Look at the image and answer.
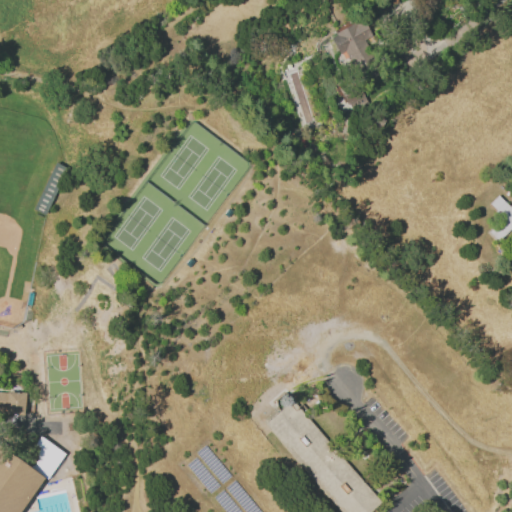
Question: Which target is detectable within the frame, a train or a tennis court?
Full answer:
It is a tennis court that can be seen here.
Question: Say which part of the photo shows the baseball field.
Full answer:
The baseball field sits in the left section of the image.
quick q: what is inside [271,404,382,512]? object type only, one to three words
building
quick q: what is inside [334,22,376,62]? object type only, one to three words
house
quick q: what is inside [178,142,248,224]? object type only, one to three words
tennis court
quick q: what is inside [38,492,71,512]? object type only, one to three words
swimming pool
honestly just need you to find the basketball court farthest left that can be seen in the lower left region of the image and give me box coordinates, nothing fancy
[45,350,85,414]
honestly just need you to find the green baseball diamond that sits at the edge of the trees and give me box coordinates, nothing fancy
[0,109,63,328]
